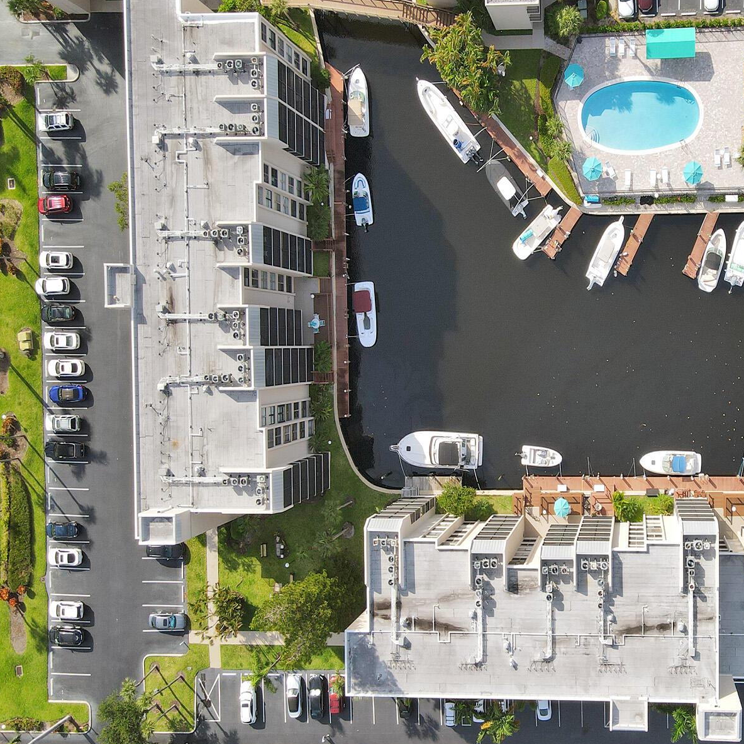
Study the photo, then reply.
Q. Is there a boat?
Yes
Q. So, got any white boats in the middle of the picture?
Yes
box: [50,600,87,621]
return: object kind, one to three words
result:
car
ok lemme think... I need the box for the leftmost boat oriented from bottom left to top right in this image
[516,197,568,258]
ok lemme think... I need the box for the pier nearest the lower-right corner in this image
[524,476,744,492]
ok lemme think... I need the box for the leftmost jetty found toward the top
[324,62,350,417]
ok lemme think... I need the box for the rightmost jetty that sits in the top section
[683,212,719,278]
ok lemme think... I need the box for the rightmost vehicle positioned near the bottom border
[538,699,553,723]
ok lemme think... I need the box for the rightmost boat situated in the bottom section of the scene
[640,450,703,475]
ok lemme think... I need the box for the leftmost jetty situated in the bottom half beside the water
[406,476,462,492]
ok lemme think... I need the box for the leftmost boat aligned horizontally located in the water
[388,433,485,469]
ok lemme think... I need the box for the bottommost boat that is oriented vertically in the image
[354,282,378,347]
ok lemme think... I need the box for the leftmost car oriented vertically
[239,680,258,724]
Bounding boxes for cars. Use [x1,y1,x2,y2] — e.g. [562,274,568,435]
[39,112,77,133]
[45,331,83,351]
[35,276,73,296]
[52,384,86,404]
[538,699,553,723]
[149,612,187,632]
[146,542,185,562]
[239,680,258,724]
[638,0,653,8]
[397,697,414,722]
[308,676,327,719]
[45,170,83,191]
[41,250,74,269]
[50,358,87,378]
[285,674,304,718]
[618,0,633,13]
[38,195,75,215]
[46,414,84,434]
[498,699,513,715]
[48,548,85,568]
[50,600,87,621]
[46,521,83,541]
[42,304,77,323]
[703,0,719,9]
[50,626,87,647]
